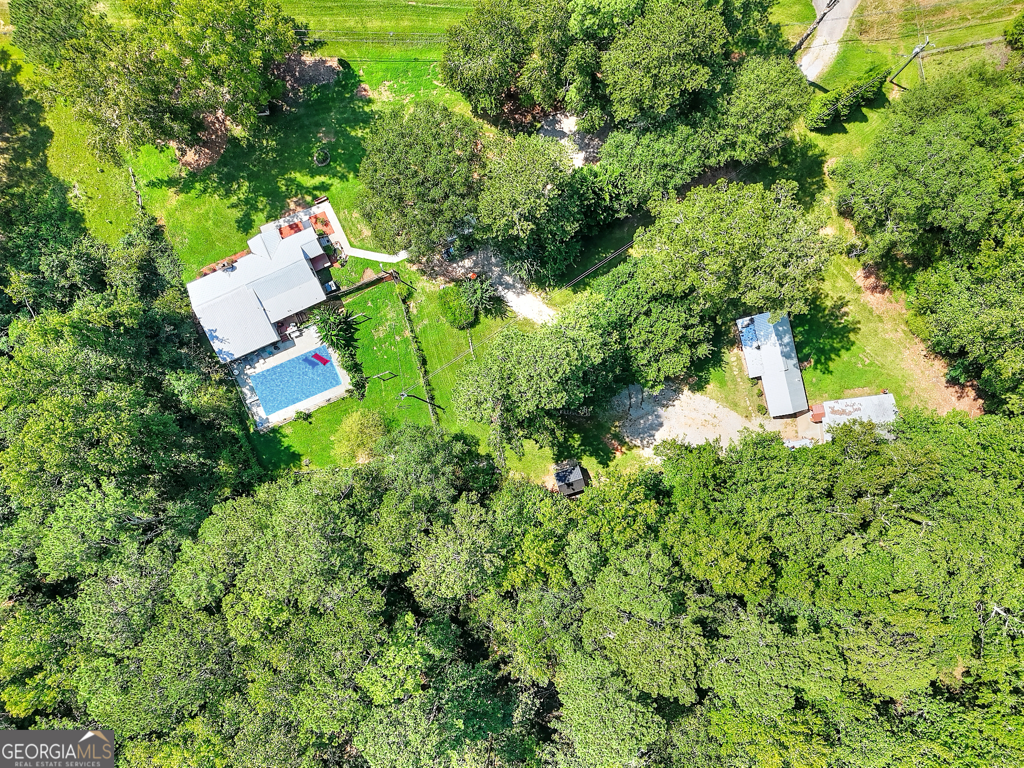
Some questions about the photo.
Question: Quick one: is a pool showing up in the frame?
Yes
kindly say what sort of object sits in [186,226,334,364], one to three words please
building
